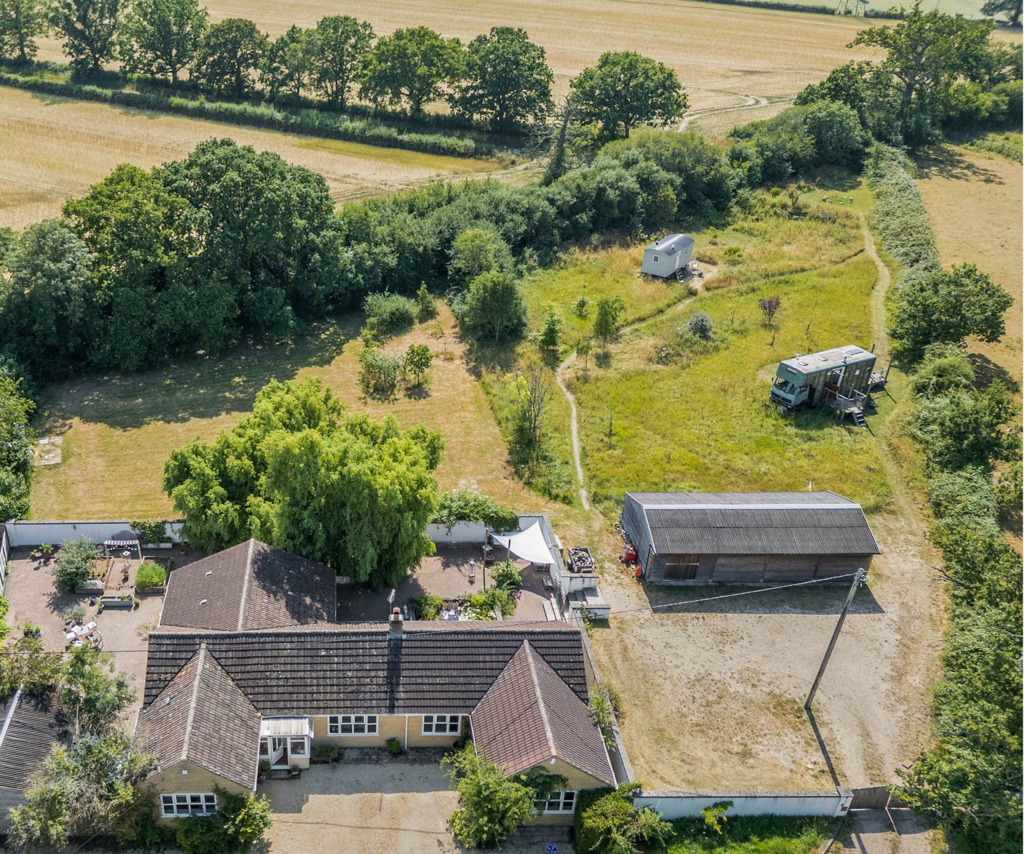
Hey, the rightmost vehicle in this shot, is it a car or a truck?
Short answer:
truck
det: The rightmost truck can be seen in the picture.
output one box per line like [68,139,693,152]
[768,345,876,413]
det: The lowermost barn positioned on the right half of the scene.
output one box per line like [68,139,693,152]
[623,488,890,585]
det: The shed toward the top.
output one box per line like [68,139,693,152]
[640,233,695,284]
